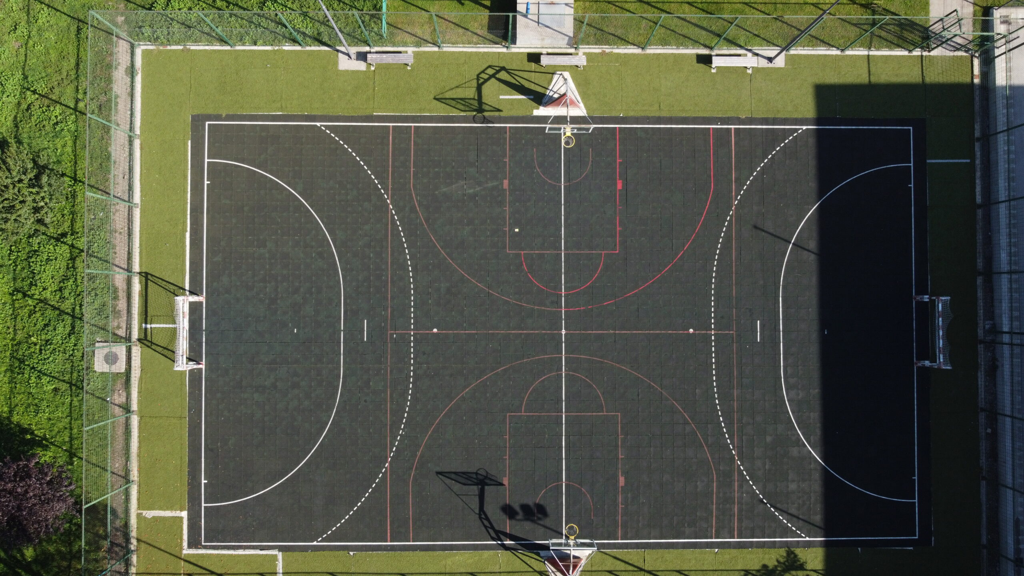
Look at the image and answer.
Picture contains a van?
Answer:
No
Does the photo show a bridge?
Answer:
No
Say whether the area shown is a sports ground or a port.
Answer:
sports ground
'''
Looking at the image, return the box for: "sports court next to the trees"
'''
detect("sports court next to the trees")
[143,95,970,552]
